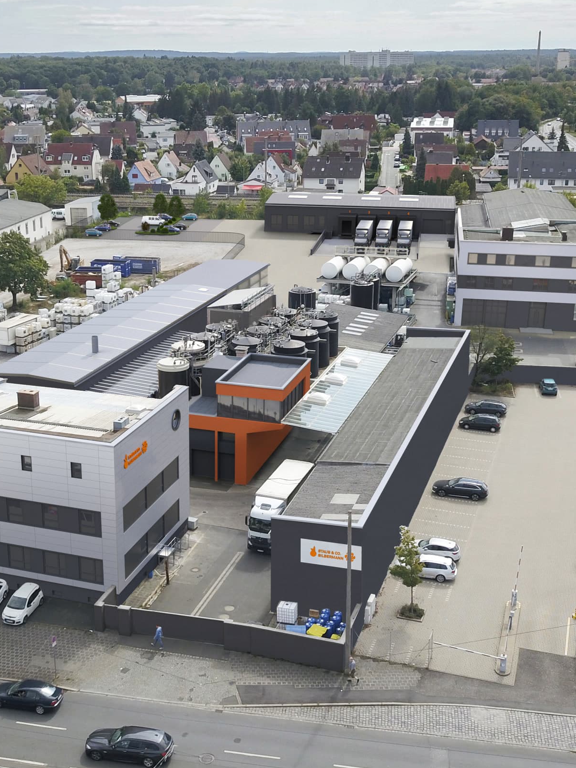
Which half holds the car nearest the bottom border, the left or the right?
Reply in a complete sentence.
You can find the car nearest the bottom border on the left side of the picture.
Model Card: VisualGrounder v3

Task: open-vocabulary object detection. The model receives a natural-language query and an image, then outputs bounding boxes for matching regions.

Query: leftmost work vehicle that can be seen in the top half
[53,244,78,277]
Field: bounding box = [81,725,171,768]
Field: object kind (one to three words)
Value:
car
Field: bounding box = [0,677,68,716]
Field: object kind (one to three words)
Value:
car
